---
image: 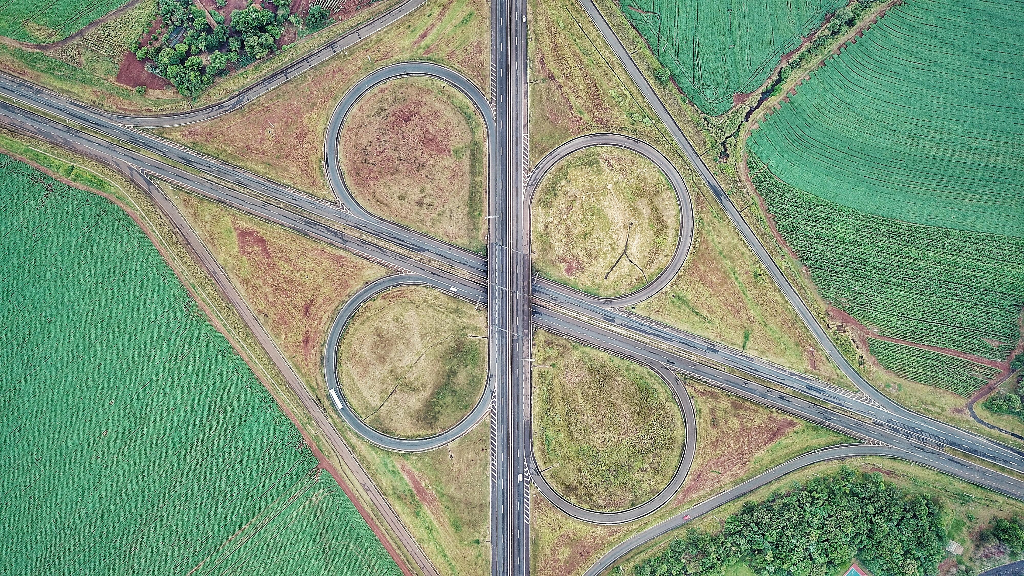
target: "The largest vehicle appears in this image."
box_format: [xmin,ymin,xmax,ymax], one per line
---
[330,389,344,411]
